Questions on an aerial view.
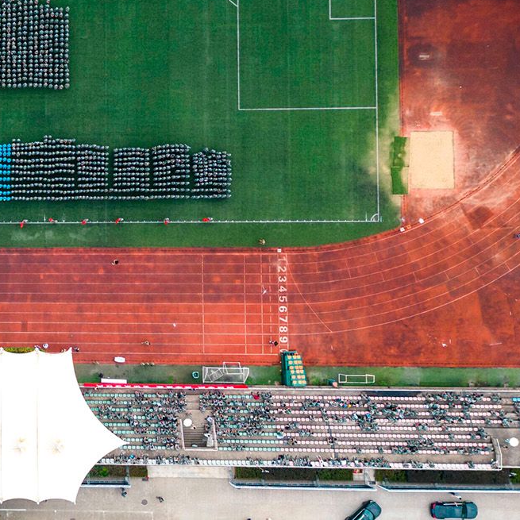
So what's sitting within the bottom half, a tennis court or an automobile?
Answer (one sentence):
It is an automobile that can be seen within the bottom half.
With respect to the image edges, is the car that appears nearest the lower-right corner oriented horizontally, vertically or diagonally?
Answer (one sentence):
Seen from above, the car that appears nearest the lower-right corner lies horizontally.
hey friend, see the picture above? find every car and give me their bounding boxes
[427,498,473,519]
[339,496,377,520]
